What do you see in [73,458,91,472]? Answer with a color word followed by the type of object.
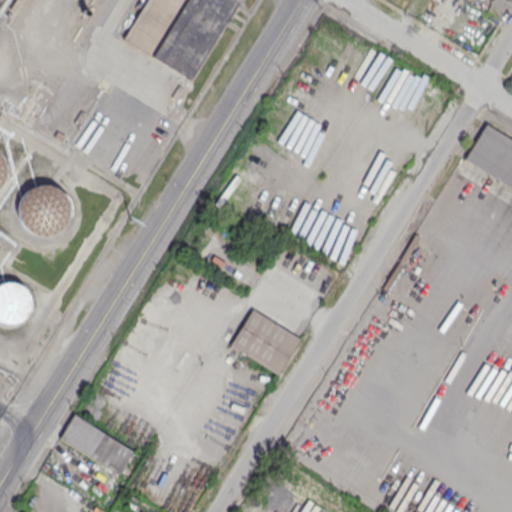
white vehicle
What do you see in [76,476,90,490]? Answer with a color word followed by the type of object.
white vehicle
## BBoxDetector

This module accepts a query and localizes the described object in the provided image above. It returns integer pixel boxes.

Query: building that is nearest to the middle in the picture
[229,308,303,377]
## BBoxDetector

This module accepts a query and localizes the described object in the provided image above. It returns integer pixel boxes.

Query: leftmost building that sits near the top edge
[128,0,188,56]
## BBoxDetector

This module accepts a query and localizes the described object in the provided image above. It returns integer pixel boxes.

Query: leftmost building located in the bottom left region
[61,414,106,458]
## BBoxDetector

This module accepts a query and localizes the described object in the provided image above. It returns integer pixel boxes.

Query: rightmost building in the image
[463,122,512,188]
